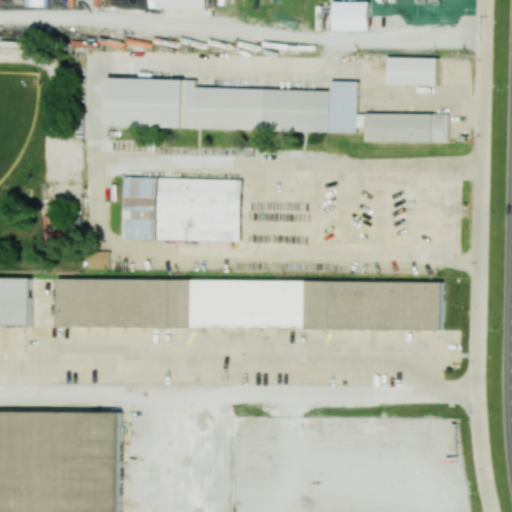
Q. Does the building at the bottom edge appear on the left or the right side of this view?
left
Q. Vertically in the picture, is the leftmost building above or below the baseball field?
below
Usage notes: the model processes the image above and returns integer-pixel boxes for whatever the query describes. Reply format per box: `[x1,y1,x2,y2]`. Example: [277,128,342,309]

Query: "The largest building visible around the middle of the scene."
[56,280,444,334]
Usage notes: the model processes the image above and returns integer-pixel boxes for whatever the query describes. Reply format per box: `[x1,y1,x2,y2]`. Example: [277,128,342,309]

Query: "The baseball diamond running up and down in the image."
[0,71,40,183]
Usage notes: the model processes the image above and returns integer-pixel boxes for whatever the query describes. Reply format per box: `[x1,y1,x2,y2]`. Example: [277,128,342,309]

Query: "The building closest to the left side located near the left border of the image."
[0,278,33,327]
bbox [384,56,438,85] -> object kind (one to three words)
shed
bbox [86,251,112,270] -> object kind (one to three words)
shed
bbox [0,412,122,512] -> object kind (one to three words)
building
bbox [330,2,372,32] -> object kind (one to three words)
building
